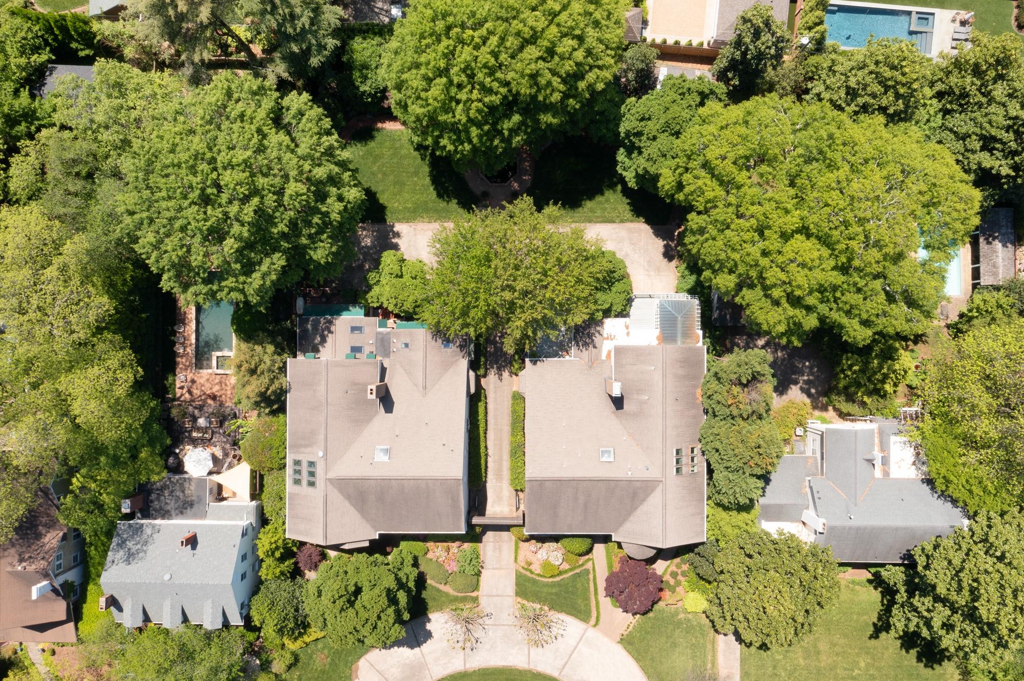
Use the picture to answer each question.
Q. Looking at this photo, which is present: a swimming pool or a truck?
swimming pool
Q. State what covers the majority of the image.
trees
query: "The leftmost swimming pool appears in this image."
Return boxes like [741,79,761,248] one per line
[191,268,237,373]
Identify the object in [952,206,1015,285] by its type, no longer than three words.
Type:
shed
